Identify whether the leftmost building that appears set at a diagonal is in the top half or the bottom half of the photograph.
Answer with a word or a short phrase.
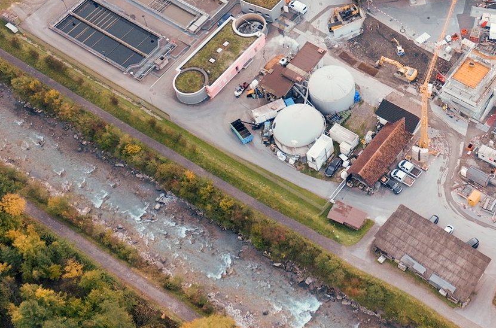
top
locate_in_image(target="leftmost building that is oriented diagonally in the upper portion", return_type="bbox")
[172,12,267,105]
